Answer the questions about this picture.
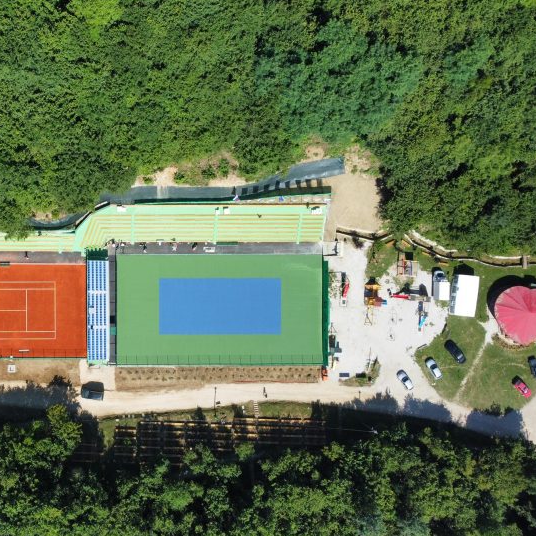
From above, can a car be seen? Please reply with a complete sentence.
Yes, there's a car down there.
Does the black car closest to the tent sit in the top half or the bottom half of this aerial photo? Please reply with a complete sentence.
The black car closest to the tent is in the bottom half of the image.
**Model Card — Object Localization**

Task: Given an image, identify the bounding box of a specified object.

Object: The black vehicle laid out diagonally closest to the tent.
[443,338,466,365]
